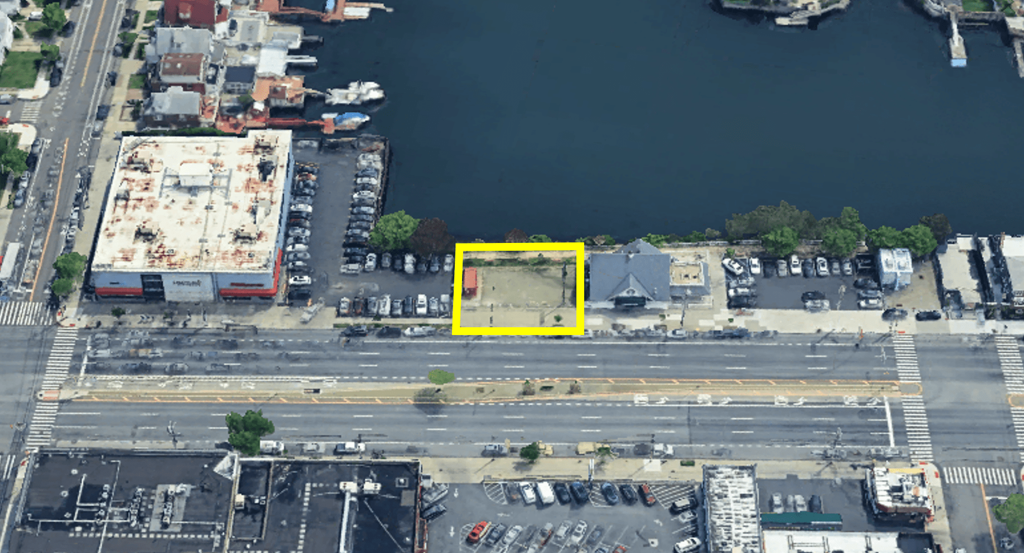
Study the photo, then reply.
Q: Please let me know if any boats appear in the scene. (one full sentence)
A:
Yes, a boat can be made out from above.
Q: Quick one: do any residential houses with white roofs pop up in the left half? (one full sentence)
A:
Yes, there is a residential house with a white roof in the left half.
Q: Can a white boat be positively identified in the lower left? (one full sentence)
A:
No, the scene shows no white boat in the lower left.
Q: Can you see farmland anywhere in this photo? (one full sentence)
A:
No, no farmland is visible.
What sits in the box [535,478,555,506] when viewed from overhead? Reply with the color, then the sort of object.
white vehicle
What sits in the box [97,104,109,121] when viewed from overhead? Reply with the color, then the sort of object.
blue vehicle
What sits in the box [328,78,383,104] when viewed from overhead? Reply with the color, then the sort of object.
white boat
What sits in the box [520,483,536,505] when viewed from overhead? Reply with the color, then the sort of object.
white car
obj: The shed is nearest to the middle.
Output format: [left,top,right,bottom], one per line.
[465,269,478,298]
